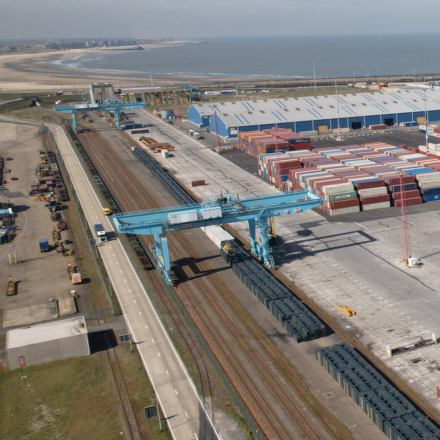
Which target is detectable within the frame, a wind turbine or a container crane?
container crane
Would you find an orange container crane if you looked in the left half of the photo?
No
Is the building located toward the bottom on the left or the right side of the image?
left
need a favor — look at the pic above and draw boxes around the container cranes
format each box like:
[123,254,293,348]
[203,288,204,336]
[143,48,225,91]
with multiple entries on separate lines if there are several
[53,97,144,132]
[111,183,327,286]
